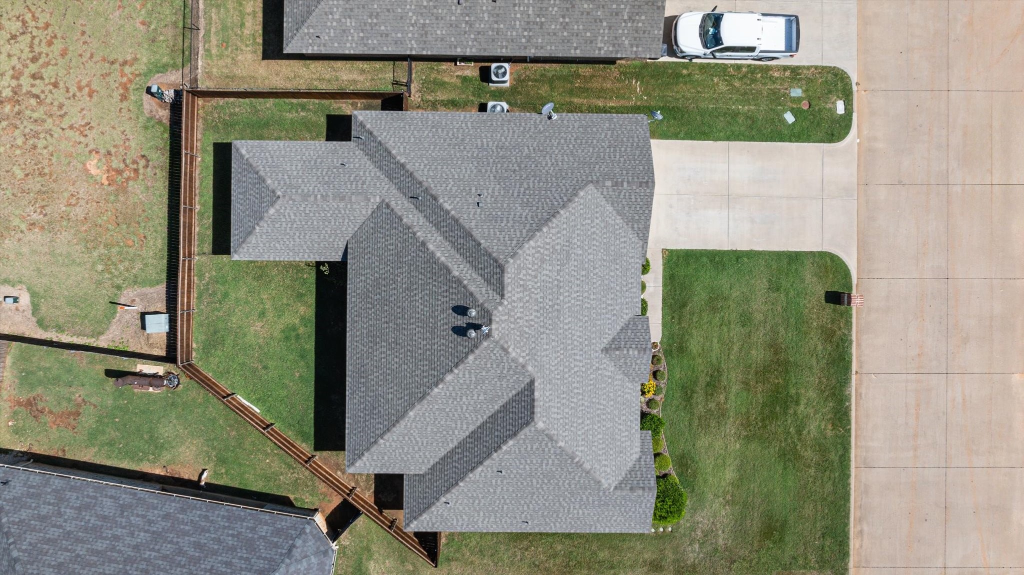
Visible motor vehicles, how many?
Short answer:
one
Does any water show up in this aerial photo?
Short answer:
No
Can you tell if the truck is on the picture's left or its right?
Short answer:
right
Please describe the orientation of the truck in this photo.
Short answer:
from side to side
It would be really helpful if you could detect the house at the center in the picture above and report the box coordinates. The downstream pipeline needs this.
[230,111,657,533]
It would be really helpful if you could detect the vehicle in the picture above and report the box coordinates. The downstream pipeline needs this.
[671,6,803,63]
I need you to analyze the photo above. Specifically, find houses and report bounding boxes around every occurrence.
[230,111,657,533]
[283,0,667,59]
[0,459,343,575]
